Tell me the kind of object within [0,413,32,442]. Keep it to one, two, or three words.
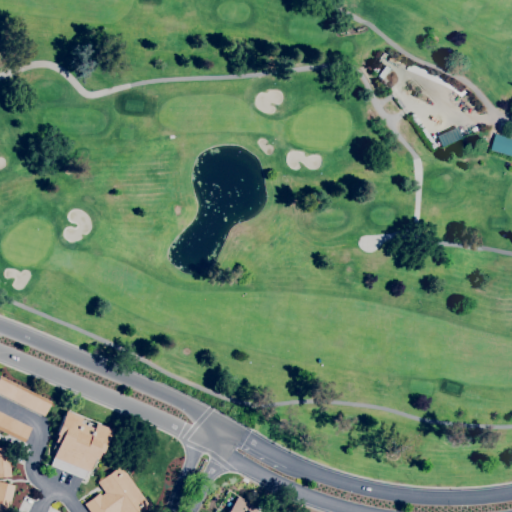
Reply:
building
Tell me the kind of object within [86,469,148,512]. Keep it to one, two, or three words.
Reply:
house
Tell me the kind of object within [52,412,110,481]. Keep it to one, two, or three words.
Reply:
house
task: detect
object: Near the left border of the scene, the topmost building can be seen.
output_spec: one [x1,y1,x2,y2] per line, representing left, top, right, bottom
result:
[0,376,54,417]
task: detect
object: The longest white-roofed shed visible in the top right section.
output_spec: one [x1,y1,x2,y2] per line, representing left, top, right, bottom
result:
[408,64,466,95]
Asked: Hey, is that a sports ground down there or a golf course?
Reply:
golf course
